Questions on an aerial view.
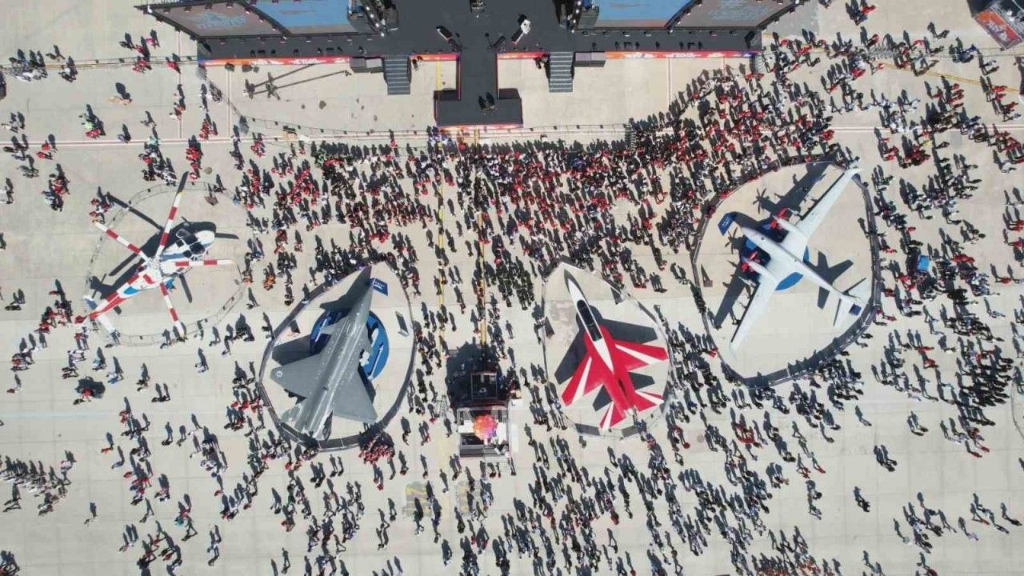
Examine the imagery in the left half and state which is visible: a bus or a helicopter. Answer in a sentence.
Visible in the left half is a helicopter.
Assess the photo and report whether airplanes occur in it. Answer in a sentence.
Yes, this view includes an airplane.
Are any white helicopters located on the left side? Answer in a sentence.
Yes, I can see a white helicopter on the left side.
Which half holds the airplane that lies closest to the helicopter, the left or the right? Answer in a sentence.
The airplane that lies closest to the helicopter is on the left side of the image.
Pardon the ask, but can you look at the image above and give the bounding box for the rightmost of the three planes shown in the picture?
[734,168,881,357]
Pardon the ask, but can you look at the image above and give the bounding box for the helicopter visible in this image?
[74,197,234,345]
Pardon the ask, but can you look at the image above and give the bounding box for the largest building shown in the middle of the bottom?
[457,391,512,450]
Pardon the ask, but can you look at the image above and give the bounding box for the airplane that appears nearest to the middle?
[559,276,668,429]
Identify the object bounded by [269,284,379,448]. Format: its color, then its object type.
gray airplane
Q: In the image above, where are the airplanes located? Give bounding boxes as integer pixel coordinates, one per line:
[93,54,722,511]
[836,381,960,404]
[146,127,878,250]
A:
[269,284,379,448]
[734,168,881,357]
[559,276,668,429]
